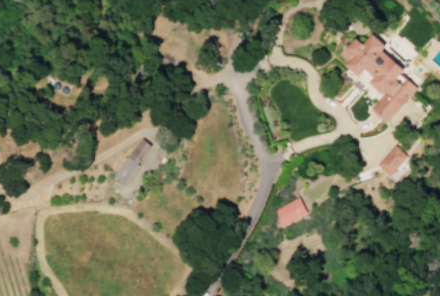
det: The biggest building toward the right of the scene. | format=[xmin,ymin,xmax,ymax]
[341,32,420,121]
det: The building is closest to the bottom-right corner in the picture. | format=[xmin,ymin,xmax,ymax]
[380,145,409,174]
